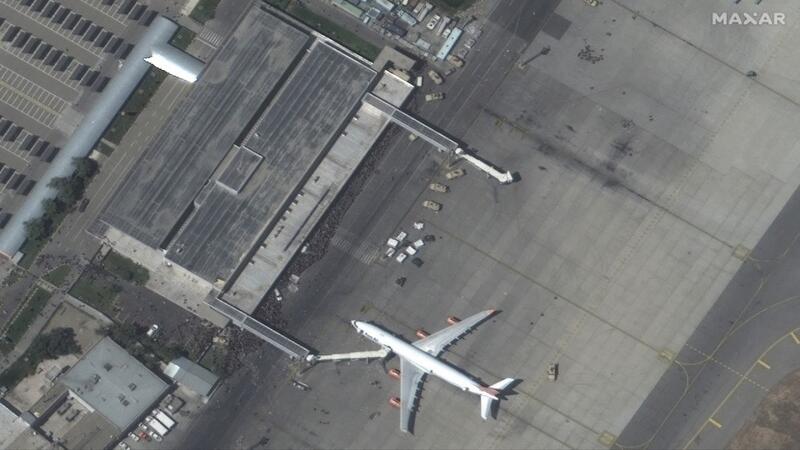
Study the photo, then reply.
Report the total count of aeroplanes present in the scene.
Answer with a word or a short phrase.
1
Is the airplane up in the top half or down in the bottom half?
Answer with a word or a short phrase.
bottom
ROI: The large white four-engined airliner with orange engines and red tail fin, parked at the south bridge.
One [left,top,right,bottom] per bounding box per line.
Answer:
[352,308,513,437]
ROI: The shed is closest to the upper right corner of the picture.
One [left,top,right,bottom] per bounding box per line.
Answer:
[436,27,463,62]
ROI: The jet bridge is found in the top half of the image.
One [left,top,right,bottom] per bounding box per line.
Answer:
[447,147,515,185]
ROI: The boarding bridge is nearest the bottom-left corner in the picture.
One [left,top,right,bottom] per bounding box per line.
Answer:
[301,345,395,376]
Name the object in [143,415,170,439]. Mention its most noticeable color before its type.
white truck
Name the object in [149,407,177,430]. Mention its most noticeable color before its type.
white truck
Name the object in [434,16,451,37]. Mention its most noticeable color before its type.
gray vehicle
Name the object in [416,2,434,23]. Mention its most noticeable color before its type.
gray vehicle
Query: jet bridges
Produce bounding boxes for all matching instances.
[447,147,515,185]
[301,345,395,376]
